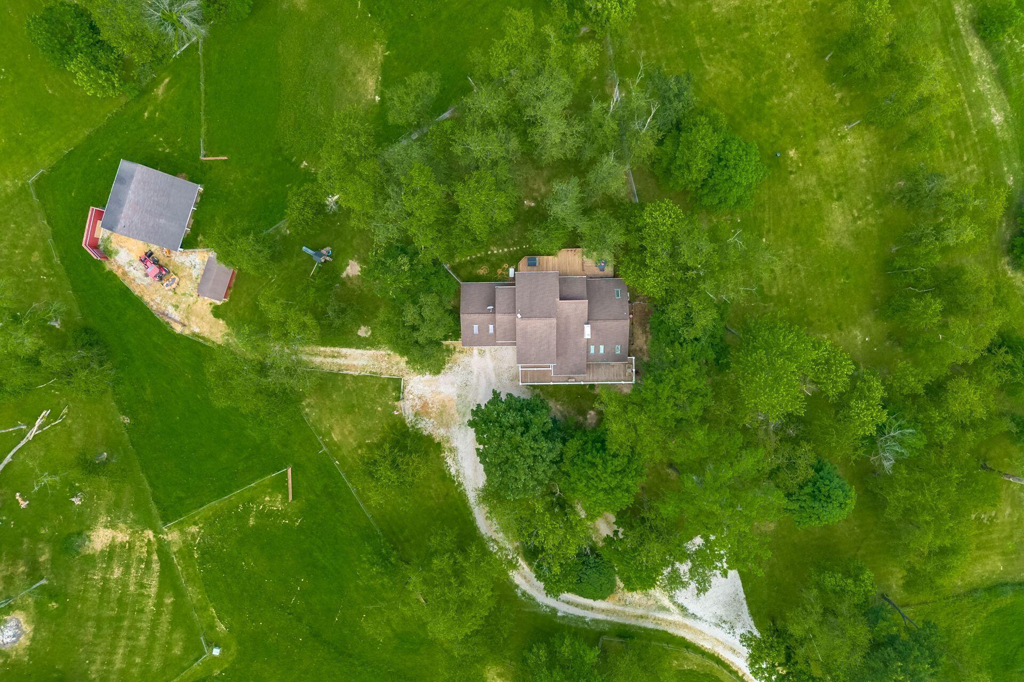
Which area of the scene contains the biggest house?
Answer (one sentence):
The biggest house sits in the center section of the image.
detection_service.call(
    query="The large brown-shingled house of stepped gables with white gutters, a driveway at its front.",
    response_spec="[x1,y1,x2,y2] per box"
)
[459,271,632,376]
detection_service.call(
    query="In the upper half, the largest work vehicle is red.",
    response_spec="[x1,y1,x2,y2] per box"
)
[143,248,171,279]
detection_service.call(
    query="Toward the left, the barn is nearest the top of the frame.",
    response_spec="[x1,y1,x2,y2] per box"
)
[100,159,205,252]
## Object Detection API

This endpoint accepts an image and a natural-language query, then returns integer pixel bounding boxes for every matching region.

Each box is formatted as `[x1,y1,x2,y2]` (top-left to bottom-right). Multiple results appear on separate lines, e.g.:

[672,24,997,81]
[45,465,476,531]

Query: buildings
[459,271,632,376]
[197,255,242,302]
[100,159,205,252]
